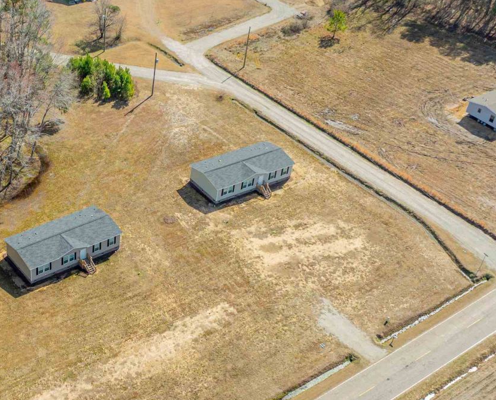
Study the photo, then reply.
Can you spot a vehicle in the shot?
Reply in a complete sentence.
No, no vehicle is visible in the view.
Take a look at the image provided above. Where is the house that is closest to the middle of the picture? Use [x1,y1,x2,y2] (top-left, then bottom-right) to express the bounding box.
[190,142,295,202]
